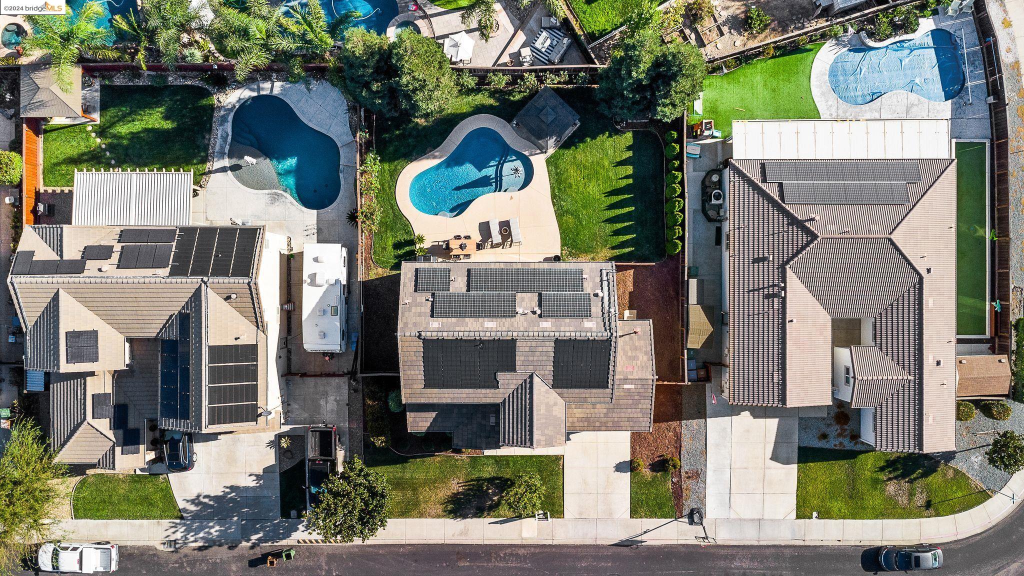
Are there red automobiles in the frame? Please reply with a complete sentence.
No, no red automobile can be seen from above.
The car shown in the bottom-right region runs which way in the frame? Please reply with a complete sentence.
The car shown in the bottom-right region runs horizontally in the image.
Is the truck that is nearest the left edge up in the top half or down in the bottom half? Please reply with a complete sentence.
Seen from above, the truck that is nearest the left edge lies in the bottom half of the view.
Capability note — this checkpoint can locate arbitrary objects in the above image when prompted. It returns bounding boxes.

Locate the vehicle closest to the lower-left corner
[40,540,120,574]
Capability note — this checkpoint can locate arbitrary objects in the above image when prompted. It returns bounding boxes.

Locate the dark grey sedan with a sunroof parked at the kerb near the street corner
[877,542,942,572]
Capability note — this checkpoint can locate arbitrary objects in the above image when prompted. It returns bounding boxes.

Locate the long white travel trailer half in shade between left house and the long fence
[303,244,352,361]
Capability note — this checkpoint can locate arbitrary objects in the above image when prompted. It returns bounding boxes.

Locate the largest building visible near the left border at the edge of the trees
[6,224,297,470]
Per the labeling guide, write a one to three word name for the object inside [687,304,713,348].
shed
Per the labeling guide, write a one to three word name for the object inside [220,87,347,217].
swimming pool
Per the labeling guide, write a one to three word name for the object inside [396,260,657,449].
house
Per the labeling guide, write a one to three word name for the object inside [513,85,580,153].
gazebo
